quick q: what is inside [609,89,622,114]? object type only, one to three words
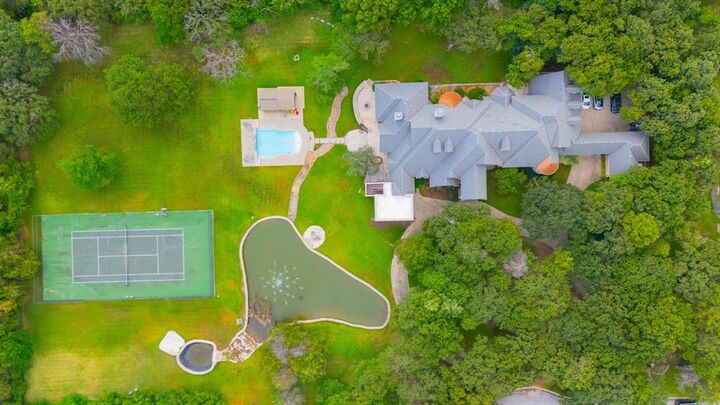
vehicle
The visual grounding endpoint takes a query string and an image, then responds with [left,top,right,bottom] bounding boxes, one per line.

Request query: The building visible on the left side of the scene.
[259,89,295,110]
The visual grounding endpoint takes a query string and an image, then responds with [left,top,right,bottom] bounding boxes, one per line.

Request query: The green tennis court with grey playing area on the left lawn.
[42,210,210,301]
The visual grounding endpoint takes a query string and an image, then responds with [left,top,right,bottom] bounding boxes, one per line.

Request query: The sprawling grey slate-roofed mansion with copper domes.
[366,71,650,221]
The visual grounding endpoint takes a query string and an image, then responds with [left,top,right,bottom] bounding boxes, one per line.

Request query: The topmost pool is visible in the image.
[240,85,315,167]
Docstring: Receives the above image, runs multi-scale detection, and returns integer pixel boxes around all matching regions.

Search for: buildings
[259,89,295,110]
[366,71,650,221]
